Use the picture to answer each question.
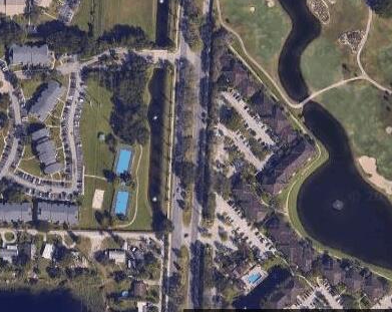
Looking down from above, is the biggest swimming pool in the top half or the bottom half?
bottom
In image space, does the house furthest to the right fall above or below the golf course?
below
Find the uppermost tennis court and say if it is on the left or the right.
left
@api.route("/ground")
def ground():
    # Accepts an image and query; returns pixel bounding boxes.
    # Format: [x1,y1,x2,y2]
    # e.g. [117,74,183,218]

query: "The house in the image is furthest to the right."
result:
[362,283,389,311]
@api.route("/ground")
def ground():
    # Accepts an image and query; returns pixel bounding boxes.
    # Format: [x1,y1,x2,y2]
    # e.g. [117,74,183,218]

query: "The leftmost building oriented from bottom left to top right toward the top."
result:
[27,79,65,121]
